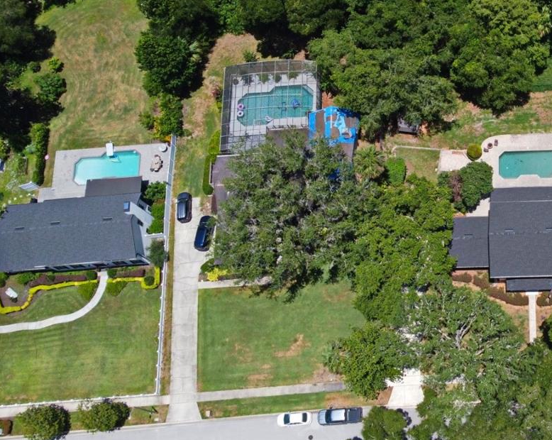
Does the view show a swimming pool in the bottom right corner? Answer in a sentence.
No, I can find no swimming pool in the bottom right corner.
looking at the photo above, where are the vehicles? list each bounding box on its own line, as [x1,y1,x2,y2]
[193,218,216,249]
[277,409,314,427]
[175,194,194,222]
[318,406,364,426]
